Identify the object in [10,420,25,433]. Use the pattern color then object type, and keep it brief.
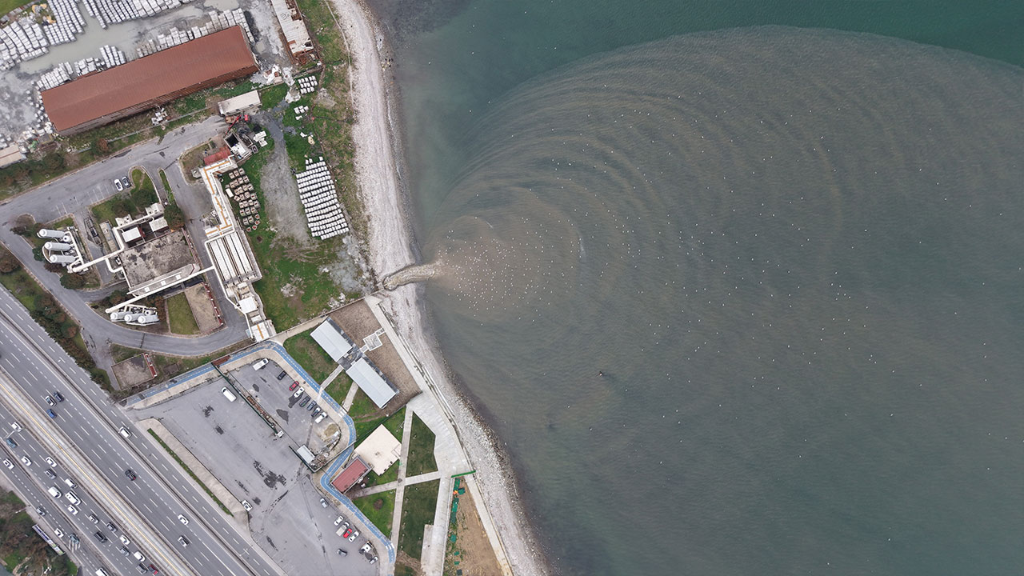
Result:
white vehicle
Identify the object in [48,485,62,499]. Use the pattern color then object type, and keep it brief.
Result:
white vehicle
